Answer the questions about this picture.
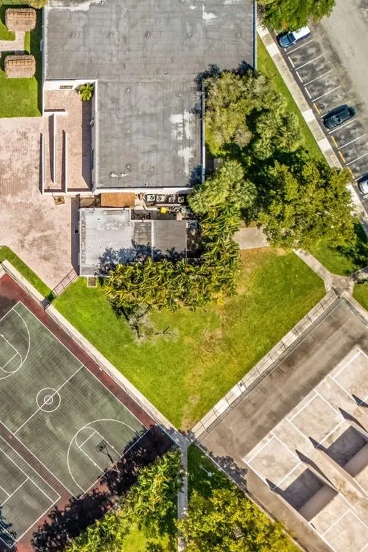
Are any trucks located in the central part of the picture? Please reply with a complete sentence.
No, looking in the central part of the picture, there is no truck.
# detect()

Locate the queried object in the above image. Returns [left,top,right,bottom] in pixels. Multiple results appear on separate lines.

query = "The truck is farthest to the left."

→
[274,22,314,51]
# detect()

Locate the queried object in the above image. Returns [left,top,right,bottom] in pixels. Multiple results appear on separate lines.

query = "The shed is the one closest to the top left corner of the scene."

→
[5,8,37,34]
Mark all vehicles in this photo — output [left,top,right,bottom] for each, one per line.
[321,105,353,128]
[355,178,368,195]
[274,22,314,51]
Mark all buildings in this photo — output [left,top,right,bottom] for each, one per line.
[75,208,153,277]
[3,55,36,79]
[5,8,37,34]
[42,0,255,193]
